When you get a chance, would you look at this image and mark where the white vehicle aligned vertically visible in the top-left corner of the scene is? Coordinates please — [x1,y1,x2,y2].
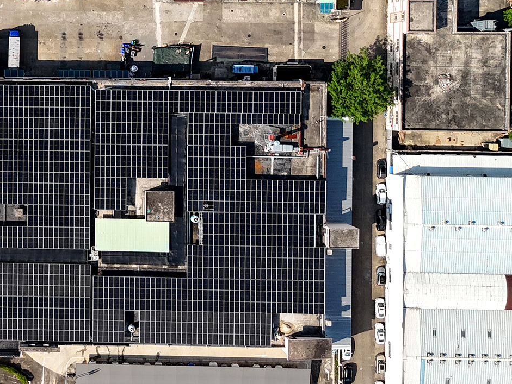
[8,34,20,73]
